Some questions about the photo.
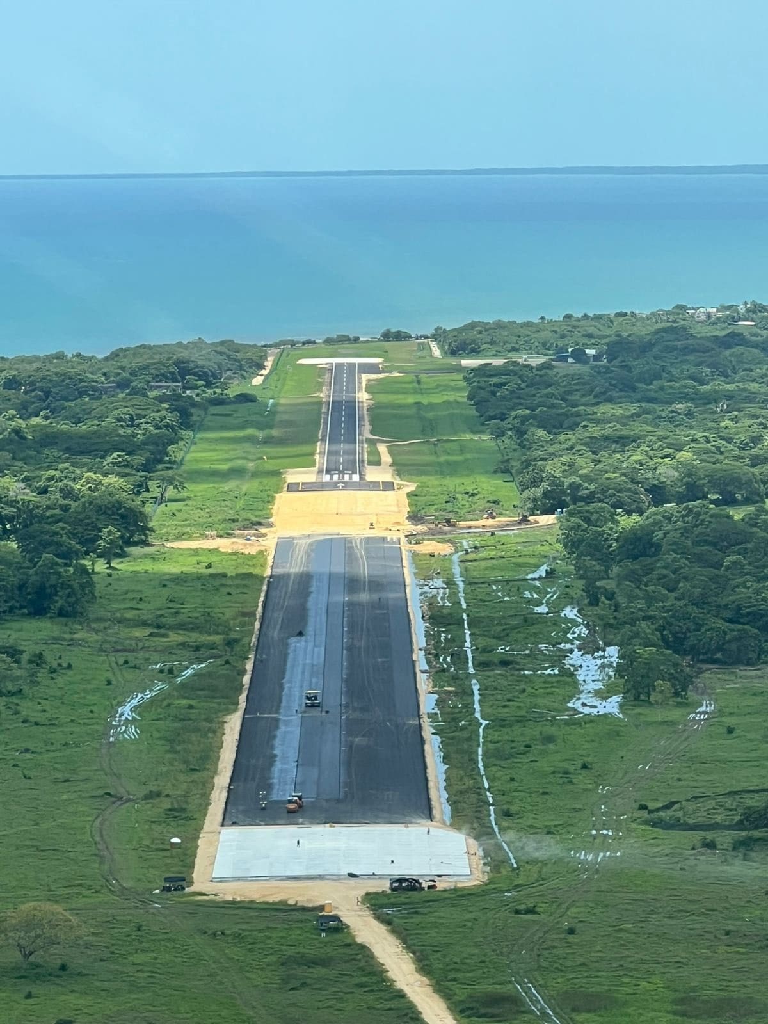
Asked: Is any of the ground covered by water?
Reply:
Yes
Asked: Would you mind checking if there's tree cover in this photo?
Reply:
Yes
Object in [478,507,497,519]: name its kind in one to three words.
vehicle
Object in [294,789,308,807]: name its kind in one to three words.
work vehicle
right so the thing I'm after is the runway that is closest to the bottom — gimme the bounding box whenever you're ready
[228,538,439,825]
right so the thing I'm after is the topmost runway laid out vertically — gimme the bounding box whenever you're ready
[325,363,363,480]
